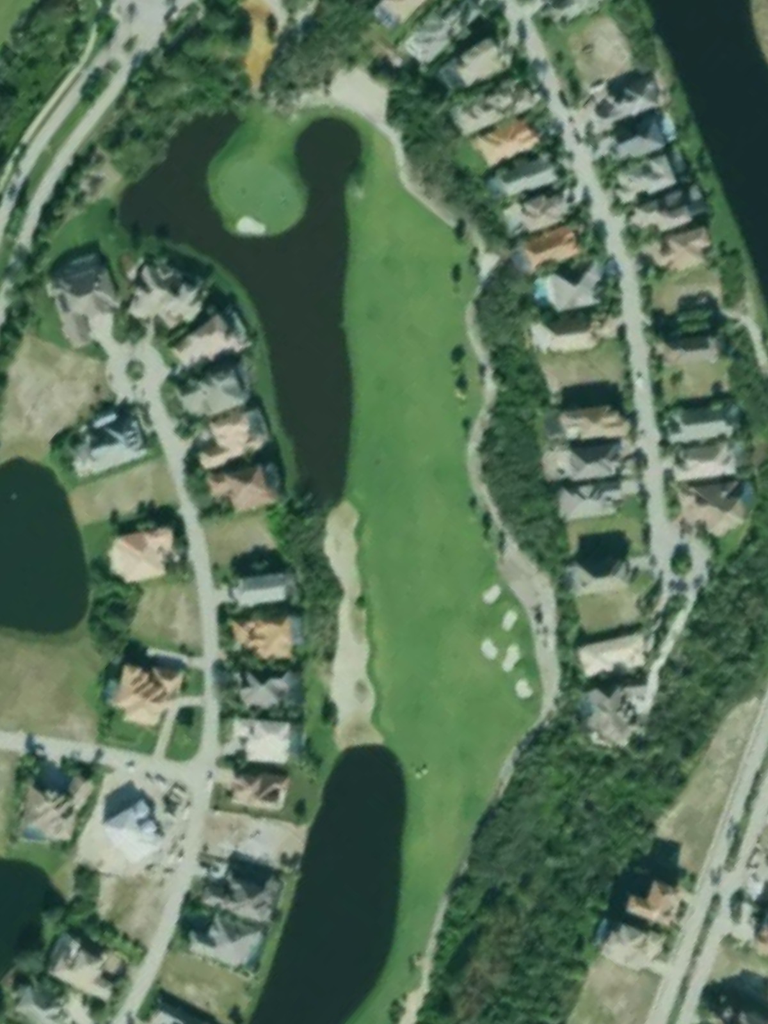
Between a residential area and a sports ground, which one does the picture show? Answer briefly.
residential area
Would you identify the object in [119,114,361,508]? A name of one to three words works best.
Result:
pond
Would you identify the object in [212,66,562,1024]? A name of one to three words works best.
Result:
golf course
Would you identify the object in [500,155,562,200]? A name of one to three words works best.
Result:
house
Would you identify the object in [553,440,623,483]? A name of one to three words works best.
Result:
house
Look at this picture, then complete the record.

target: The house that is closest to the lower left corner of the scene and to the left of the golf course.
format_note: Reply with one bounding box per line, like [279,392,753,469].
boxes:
[8,981,83,1024]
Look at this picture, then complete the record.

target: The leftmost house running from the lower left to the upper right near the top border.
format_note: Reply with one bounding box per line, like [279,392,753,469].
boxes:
[404,0,481,66]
